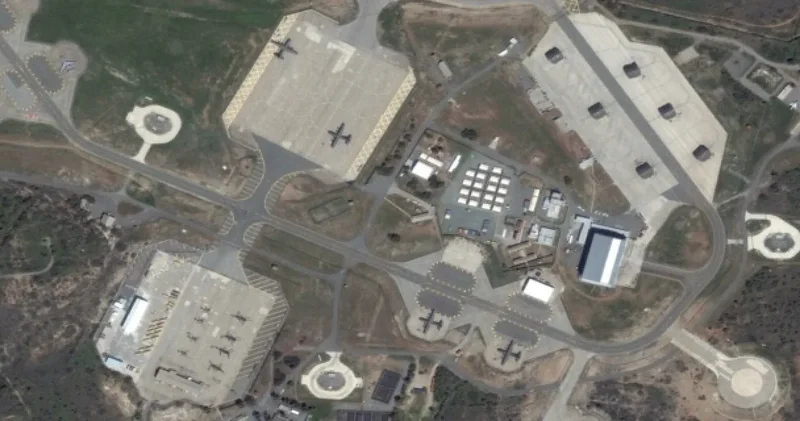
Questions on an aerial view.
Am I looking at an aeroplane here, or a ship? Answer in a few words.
aeroplane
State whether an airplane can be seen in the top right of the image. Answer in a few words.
No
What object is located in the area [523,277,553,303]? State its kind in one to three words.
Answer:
hangar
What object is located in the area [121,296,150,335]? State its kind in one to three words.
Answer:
hangar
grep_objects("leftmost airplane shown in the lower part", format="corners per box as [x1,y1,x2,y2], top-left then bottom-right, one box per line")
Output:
[420,308,441,333]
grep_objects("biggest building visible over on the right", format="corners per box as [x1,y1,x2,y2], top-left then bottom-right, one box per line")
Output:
[582,231,626,288]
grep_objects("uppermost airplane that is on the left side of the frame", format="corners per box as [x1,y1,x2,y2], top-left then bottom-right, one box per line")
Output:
[273,39,297,59]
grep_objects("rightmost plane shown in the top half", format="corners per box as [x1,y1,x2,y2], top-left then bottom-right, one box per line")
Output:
[329,122,349,147]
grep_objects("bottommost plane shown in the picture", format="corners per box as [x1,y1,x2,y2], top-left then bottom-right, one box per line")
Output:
[498,339,519,365]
